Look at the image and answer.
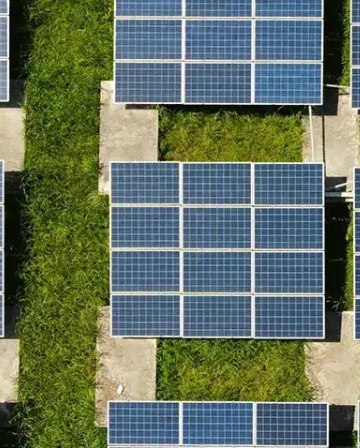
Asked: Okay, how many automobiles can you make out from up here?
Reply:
0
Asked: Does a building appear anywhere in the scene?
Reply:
No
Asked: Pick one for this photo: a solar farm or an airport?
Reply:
solar farm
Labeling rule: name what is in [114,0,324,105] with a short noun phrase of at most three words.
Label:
solar array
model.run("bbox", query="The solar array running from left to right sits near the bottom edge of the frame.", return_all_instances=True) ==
[107,399,329,448]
